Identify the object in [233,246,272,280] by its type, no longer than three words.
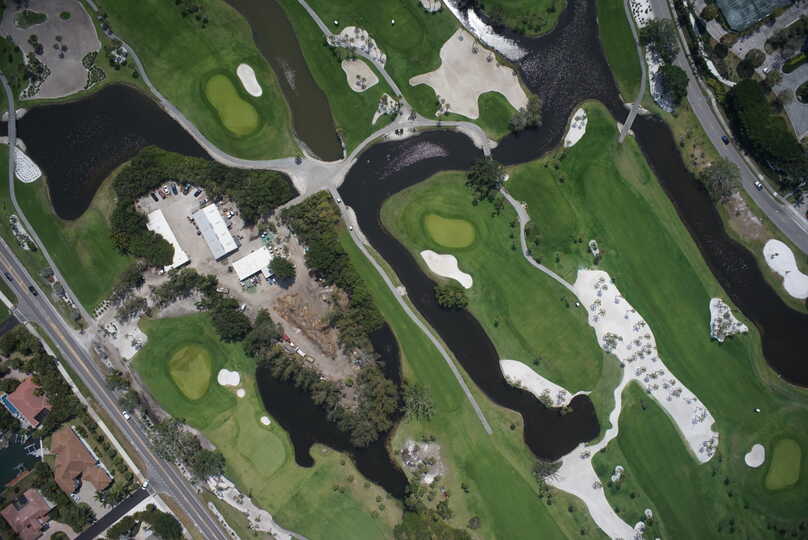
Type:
shed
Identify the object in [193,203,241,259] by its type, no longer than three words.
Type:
shed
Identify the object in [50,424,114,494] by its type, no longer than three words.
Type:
house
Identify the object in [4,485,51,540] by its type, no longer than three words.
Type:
house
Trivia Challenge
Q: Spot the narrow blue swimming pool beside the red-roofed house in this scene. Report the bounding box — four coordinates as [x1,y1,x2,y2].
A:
[0,393,32,427]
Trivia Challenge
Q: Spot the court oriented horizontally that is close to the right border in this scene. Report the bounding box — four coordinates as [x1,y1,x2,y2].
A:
[720,0,795,32]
